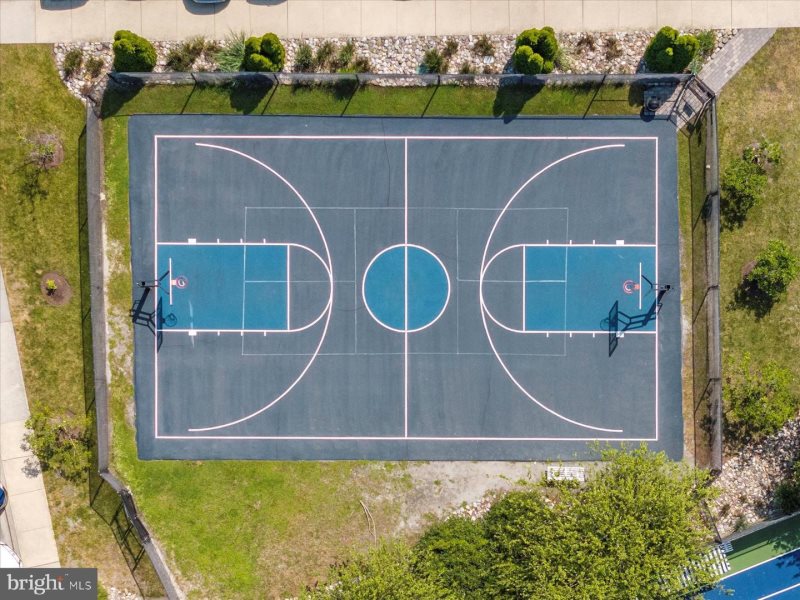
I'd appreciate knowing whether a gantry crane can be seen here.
No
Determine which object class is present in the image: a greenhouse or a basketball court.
basketball court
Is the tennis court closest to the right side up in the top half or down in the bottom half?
bottom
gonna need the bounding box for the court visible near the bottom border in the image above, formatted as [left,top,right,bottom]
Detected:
[654,517,800,600]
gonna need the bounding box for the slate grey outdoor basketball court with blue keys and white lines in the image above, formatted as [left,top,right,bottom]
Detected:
[130,115,684,462]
